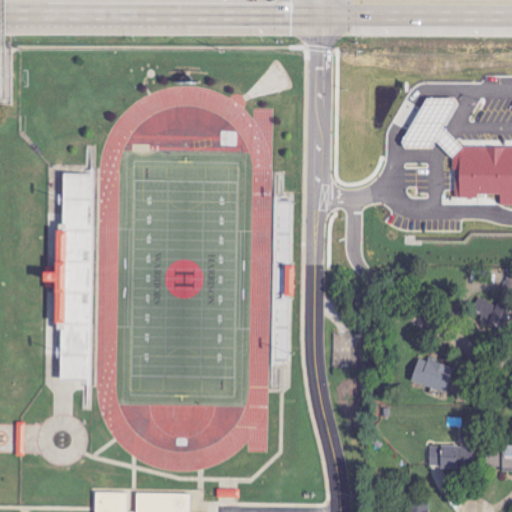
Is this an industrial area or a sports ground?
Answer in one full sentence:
The picture captures a sports ground.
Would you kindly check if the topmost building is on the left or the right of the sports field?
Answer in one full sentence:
To the right of the sports field is where the topmost building appears.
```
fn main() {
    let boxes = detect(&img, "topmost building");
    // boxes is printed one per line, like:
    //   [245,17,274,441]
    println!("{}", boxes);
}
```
[452,146,512,206]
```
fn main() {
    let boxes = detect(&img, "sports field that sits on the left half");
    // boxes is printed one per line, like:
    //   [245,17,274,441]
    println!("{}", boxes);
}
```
[117,152,252,406]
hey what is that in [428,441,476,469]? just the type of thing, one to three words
house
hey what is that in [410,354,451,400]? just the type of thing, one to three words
house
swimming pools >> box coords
[446,416,462,428]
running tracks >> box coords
[97,86,273,472]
